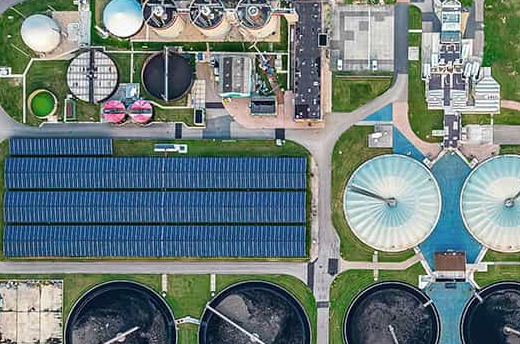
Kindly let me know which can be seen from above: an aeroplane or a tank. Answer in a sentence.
The image shows a tank.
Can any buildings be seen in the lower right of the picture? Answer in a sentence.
Yes, a building appears in the lower right of the picture.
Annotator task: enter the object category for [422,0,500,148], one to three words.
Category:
building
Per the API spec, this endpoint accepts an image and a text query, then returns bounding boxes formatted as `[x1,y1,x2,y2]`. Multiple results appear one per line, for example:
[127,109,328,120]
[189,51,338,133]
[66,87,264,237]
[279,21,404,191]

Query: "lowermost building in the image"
[435,249,466,280]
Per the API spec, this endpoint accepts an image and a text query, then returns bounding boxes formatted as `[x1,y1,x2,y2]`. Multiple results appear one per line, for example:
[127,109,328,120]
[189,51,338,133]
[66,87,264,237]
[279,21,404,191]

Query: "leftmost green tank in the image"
[29,89,59,123]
